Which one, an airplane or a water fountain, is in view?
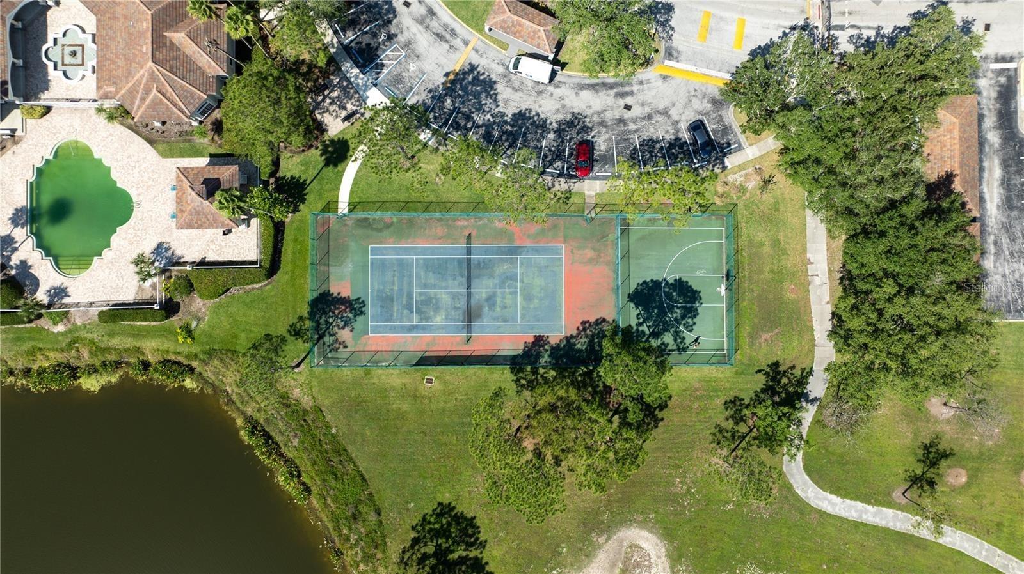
water fountain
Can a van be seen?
Yes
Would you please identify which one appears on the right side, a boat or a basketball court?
basketball court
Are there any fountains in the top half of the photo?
Yes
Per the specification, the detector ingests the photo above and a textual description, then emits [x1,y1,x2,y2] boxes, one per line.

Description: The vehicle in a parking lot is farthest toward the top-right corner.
[688,116,714,158]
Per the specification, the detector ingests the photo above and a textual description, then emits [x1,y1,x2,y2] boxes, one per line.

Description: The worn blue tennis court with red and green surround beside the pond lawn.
[318,215,618,365]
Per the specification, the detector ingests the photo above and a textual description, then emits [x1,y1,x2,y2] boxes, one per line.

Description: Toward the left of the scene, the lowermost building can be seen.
[175,164,244,230]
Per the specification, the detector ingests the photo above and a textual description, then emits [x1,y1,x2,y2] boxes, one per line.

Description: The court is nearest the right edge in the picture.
[618,217,727,364]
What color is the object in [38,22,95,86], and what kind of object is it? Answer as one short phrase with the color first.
white fountain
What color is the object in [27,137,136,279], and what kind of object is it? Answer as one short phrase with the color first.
green swimming pool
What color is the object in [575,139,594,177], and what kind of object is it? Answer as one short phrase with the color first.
red car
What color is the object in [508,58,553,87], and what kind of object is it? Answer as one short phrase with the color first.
white van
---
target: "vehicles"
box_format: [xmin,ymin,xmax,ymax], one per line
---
[575,139,594,177]
[688,116,714,158]
[508,58,553,87]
